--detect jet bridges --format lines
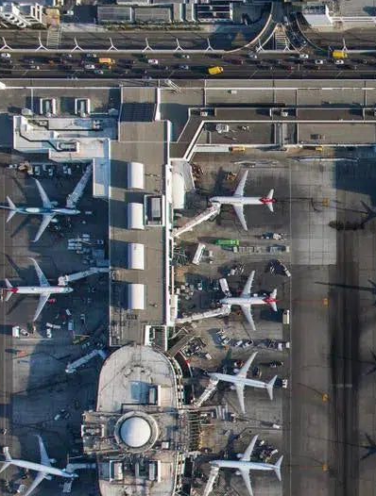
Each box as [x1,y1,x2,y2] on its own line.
[194,372,223,409]
[176,299,238,326]
[61,463,97,478]
[203,461,223,496]
[63,162,92,214]
[53,267,108,286]
[176,197,226,238]
[60,347,108,375]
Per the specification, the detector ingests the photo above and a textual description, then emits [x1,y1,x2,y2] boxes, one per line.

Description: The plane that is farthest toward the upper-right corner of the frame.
[210,169,278,230]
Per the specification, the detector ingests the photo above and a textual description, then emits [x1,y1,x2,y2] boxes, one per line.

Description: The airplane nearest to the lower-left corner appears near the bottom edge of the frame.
[0,435,79,496]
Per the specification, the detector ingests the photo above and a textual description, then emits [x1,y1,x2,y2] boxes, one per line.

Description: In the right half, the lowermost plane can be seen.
[210,433,282,496]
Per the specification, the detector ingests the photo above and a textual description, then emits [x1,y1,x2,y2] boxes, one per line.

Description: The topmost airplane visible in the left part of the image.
[3,177,81,244]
